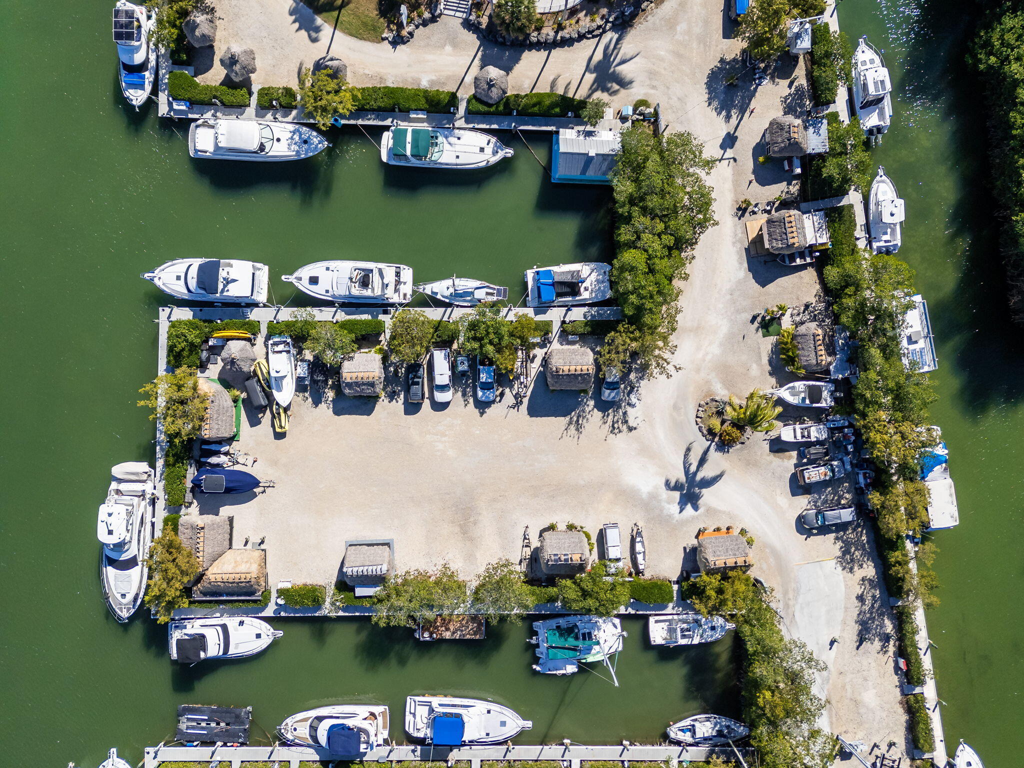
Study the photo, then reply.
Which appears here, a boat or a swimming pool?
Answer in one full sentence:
Visible in the photo is a boat.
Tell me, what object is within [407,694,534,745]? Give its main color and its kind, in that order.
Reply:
white boat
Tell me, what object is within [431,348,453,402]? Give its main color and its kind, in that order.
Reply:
white truck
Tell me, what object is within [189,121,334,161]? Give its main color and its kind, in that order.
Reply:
white boat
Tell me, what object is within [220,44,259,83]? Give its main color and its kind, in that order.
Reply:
gray umbrella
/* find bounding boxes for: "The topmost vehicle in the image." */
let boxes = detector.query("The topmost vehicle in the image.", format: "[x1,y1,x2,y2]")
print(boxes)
[728,0,752,22]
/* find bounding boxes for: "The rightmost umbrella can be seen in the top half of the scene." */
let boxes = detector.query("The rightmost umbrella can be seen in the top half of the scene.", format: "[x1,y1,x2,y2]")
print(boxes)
[471,67,510,105]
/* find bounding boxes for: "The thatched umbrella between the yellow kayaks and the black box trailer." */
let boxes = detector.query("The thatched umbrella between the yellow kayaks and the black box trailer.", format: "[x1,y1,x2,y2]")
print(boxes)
[222,336,258,377]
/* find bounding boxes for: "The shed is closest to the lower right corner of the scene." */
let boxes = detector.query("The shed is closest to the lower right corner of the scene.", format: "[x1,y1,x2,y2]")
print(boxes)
[694,532,754,575]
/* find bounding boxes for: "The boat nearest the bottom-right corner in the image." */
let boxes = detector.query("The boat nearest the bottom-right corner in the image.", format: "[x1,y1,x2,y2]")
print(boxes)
[947,736,980,768]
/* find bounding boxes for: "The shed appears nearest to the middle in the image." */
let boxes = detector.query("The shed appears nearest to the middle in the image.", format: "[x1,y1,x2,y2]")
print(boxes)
[545,346,597,392]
